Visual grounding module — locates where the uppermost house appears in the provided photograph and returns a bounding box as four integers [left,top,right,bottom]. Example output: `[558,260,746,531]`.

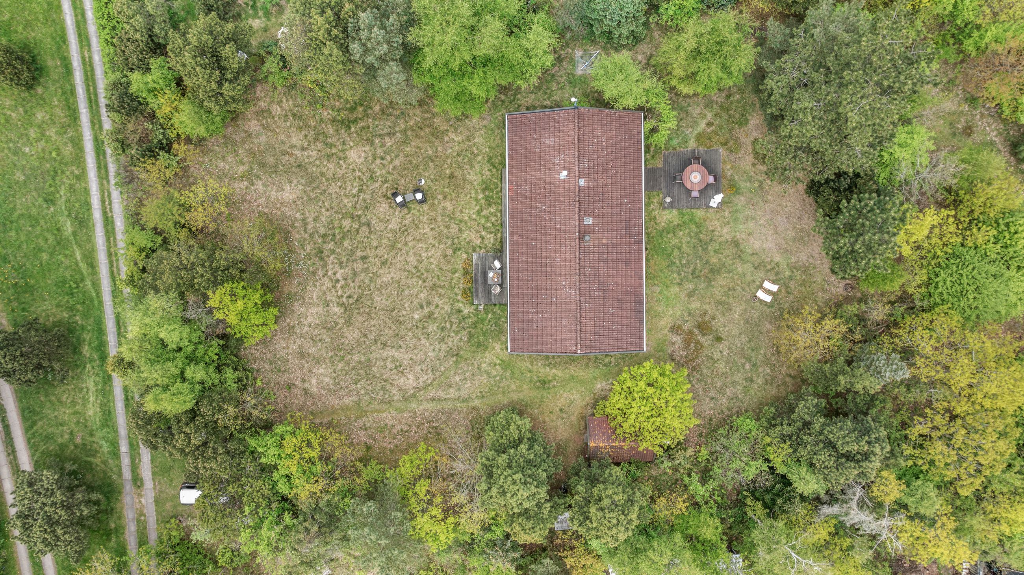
[505,106,646,355]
